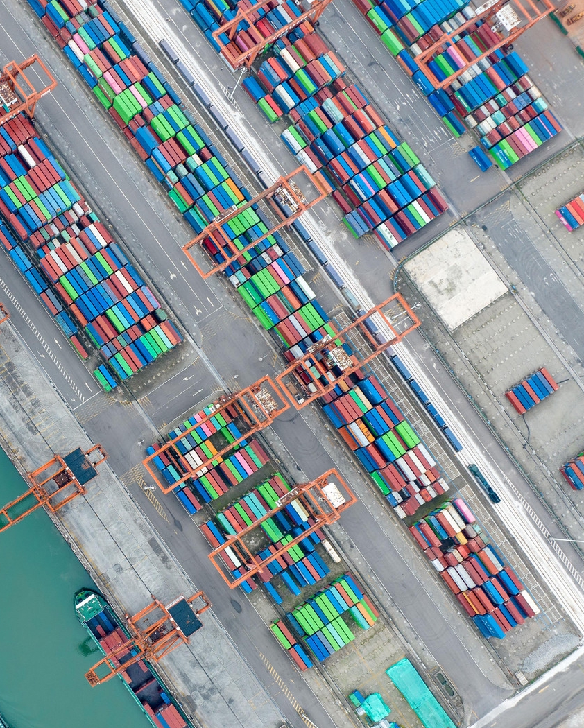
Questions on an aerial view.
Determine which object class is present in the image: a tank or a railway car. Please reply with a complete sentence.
The image shows a railway car.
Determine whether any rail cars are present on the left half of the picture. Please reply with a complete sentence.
Yes, I can see a rail car on the left half of the picture.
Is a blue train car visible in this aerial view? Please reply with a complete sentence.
Yes, I can see a blue train car in this picture.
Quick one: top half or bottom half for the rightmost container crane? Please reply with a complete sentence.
The top half of the photo is where the rightmost container crane is.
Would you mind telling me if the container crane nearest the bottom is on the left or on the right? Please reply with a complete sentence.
It is on the left.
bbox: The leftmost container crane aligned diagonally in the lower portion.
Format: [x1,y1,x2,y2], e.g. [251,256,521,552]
[0,444,107,534]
